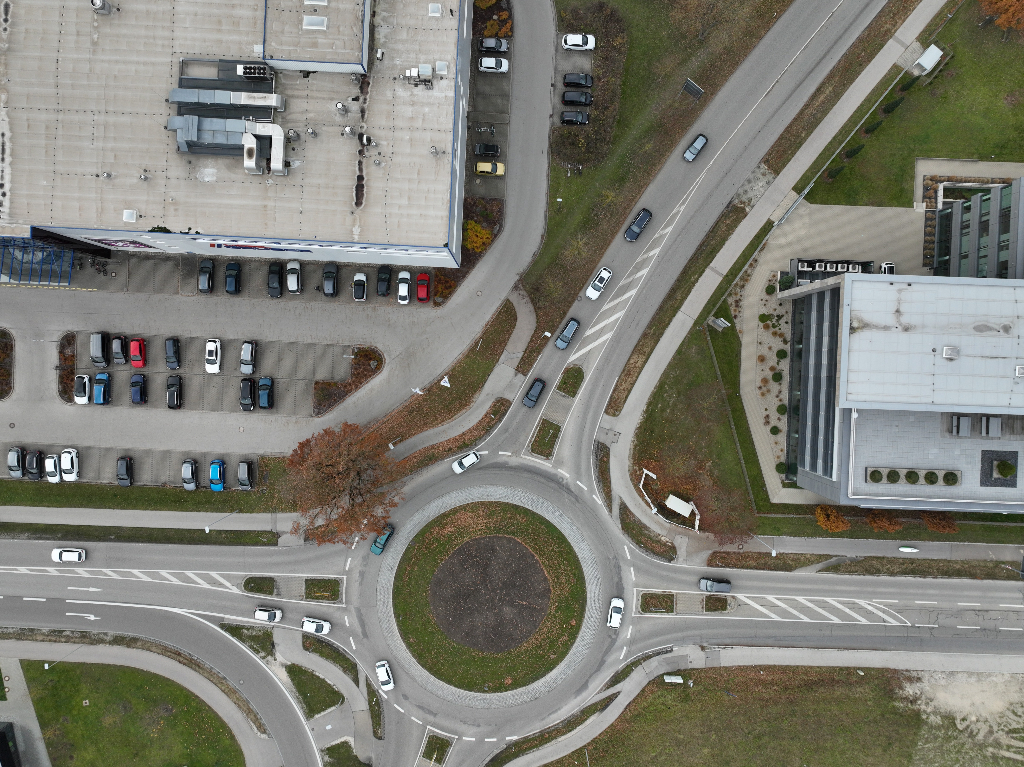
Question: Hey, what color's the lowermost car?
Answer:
white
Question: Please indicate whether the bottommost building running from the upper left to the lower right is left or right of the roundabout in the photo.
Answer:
to its right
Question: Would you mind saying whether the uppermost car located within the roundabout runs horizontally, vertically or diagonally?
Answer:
diagonally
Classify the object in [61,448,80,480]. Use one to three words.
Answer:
car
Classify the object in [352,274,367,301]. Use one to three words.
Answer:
car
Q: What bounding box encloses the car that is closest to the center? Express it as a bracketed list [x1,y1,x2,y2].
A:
[523,377,546,408]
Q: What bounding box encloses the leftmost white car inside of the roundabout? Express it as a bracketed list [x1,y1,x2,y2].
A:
[375,659,395,690]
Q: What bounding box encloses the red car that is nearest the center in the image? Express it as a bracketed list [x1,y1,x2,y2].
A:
[415,273,431,303]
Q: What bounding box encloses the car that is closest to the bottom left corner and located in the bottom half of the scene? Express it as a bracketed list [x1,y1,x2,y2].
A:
[53,547,88,564]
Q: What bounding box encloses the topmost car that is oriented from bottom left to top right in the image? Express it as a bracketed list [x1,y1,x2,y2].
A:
[683,133,709,164]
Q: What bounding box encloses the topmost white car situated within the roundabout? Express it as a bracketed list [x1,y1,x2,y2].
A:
[452,450,480,473]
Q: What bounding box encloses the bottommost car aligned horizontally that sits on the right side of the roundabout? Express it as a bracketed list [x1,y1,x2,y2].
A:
[698,577,731,593]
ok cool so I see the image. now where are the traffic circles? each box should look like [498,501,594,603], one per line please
[342,449,637,744]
